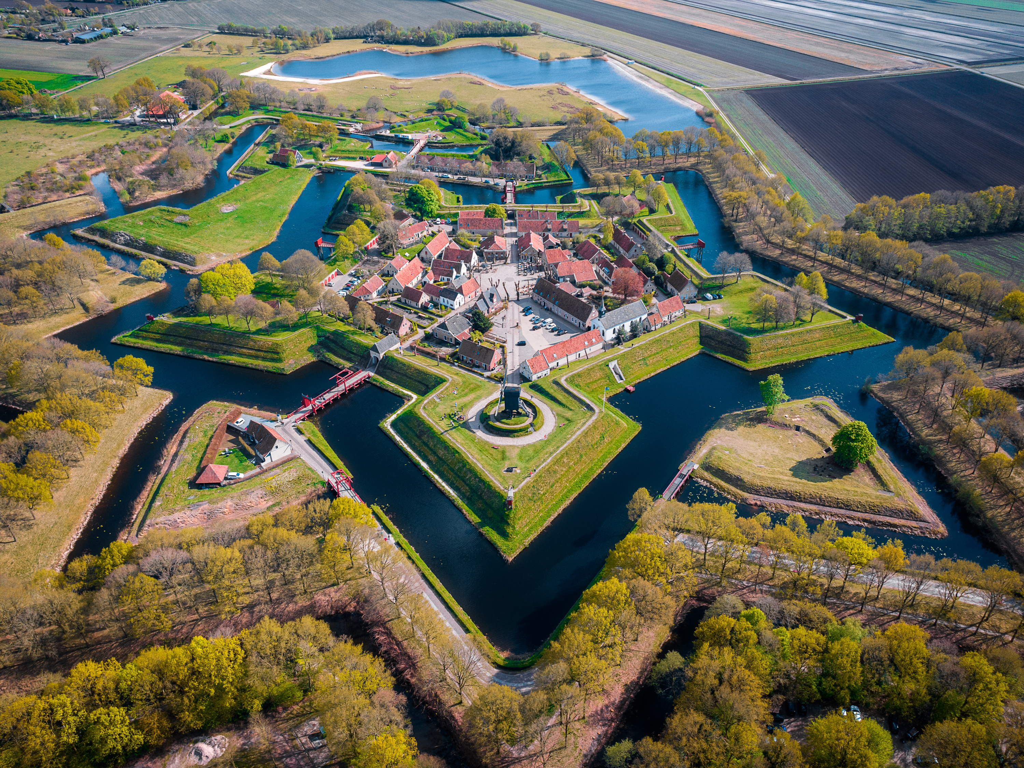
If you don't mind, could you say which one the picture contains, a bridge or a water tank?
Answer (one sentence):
There is a bridge in the scene.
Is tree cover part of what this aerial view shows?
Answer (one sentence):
Yes, some tree cover is visible.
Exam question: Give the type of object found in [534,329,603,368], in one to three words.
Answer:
house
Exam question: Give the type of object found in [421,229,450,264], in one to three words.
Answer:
building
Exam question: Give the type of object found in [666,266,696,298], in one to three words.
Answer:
house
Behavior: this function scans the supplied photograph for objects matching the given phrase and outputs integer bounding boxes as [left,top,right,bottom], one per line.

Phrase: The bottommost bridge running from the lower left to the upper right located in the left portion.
[285,364,371,423]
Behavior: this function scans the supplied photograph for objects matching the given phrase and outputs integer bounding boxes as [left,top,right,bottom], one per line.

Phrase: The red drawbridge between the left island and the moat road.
[325,459,365,502]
